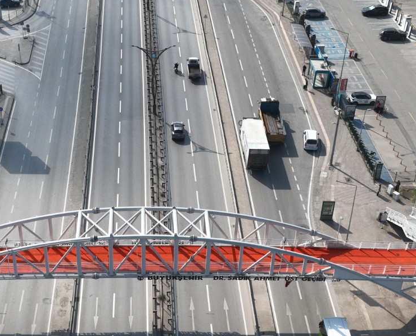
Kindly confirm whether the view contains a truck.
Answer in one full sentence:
Yes, a truck is visible in the scene.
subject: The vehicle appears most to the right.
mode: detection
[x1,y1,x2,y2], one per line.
[379,27,409,41]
